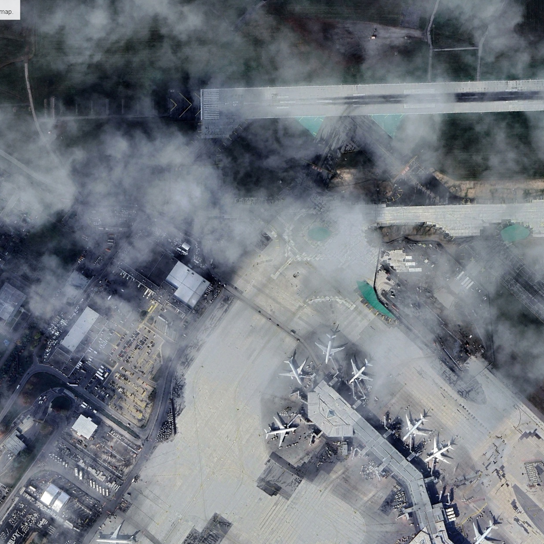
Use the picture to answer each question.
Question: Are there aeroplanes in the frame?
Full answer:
Yes, you can see an aeroplane in this photo.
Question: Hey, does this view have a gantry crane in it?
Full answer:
No, no gantry crane is visible in the scene.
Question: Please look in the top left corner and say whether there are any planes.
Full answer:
No, no plane can be made out in the top left corner.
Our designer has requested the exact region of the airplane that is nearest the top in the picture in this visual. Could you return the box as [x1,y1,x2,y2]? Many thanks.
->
[314,333,345,364]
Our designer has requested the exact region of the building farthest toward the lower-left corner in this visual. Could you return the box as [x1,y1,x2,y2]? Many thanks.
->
[40,484,69,513]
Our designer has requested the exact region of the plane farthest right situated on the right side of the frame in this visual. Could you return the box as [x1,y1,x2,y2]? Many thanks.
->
[472,520,498,544]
